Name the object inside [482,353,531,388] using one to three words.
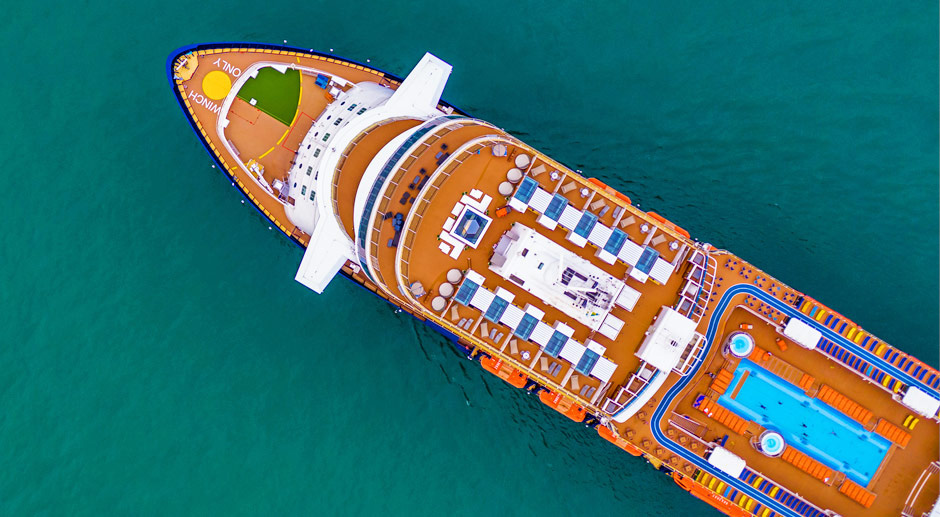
boat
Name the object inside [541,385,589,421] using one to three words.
boat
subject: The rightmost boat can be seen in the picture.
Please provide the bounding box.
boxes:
[890,343,940,370]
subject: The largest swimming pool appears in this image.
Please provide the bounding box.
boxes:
[691,344,912,509]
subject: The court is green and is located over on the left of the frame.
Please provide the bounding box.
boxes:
[239,68,300,127]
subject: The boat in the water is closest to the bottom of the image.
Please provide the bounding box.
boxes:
[675,470,756,517]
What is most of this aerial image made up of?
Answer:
water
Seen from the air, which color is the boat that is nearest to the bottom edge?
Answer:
orange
